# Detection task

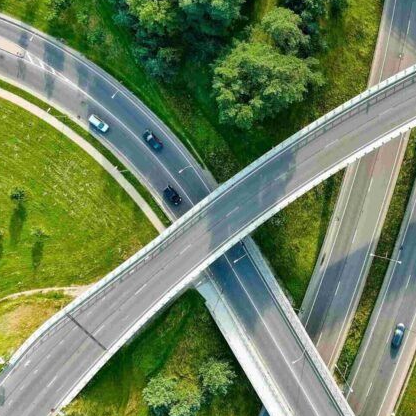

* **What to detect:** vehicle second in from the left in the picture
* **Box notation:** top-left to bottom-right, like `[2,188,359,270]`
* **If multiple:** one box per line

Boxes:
[142,129,165,152]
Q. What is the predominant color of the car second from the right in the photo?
black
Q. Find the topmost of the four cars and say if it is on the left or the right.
left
